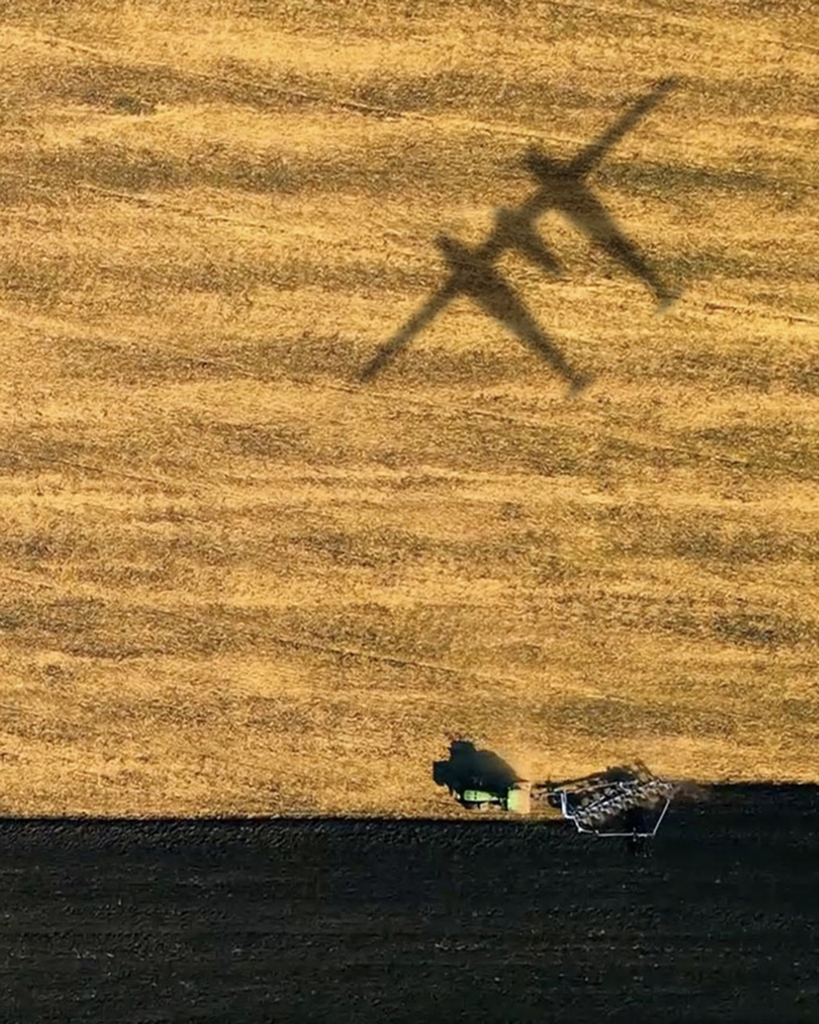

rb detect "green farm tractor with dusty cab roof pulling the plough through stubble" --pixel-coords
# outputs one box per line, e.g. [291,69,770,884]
[456,773,535,814]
